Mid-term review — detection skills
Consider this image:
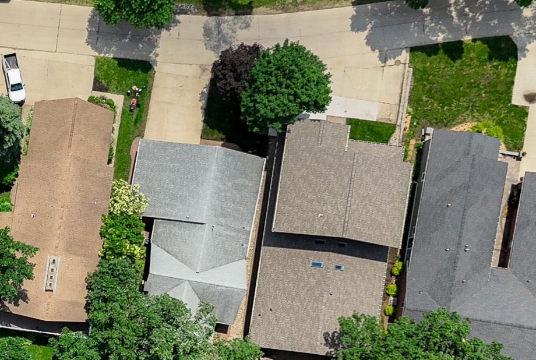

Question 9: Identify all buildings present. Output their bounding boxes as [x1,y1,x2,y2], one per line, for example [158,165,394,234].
[128,139,267,343]
[240,119,412,358]
[0,98,114,341]
[389,128,536,360]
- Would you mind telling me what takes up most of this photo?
buildings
